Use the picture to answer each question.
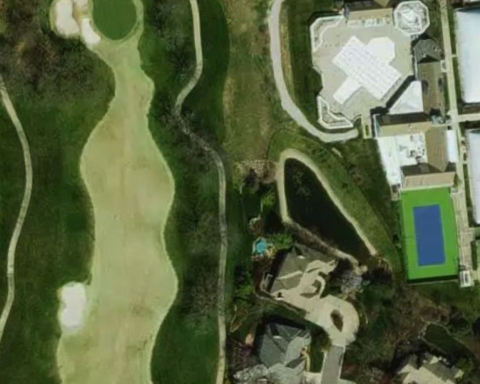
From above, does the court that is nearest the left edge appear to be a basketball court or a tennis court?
tennis court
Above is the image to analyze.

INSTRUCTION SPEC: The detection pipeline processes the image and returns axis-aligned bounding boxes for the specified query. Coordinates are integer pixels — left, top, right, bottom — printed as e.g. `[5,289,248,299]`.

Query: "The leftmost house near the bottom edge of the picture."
[255,323,308,384]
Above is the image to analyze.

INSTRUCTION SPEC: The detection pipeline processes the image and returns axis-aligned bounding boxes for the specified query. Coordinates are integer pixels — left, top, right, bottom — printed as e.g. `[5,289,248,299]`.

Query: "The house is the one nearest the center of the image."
[267,240,337,293]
